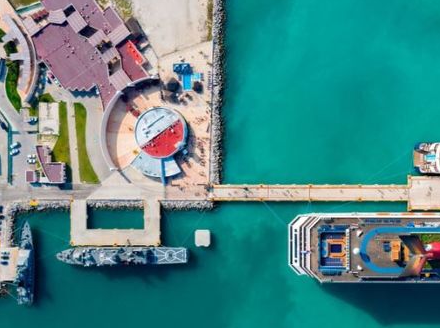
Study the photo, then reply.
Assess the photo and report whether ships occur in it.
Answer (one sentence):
Yes, I can see a ship in this picture.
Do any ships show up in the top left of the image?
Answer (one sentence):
No, no ship can be made out in the top left of the image.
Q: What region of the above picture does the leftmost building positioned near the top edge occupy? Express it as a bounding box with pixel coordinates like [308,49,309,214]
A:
[23,0,150,107]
